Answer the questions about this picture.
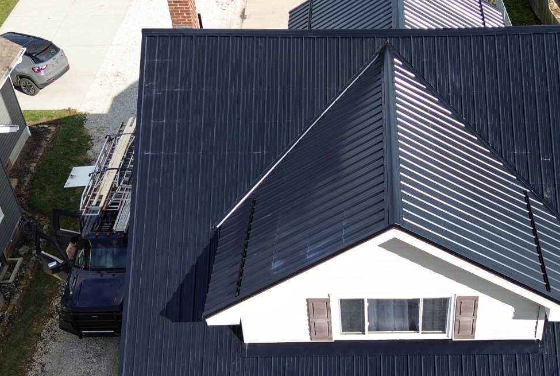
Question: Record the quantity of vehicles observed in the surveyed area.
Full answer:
I count 2 vehicles.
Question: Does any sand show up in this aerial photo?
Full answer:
No, the scene doesn't show any sand.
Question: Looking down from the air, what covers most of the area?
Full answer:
What you mostly see from above here is buildings.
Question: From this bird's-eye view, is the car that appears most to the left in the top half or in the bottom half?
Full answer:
The top half of the photo is where the car that appears most to the left is.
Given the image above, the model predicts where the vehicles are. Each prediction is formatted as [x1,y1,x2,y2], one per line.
[43,119,134,328]
[2,33,74,94]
